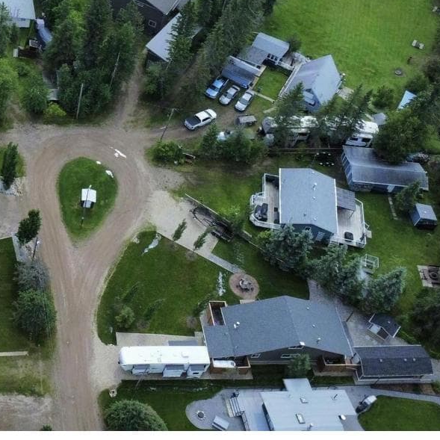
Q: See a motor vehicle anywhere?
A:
Yes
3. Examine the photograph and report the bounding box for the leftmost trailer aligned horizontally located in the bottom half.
[114,345,210,382]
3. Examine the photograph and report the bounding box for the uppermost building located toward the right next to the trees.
[237,33,292,71]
